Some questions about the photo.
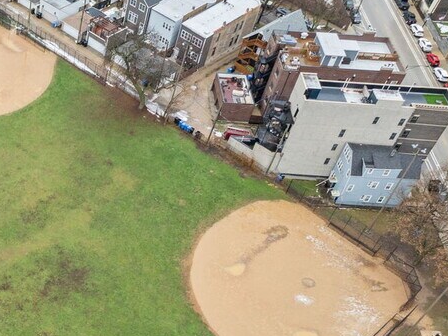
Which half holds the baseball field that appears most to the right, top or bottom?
bottom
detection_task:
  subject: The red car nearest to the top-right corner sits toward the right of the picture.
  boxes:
[425,53,442,68]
